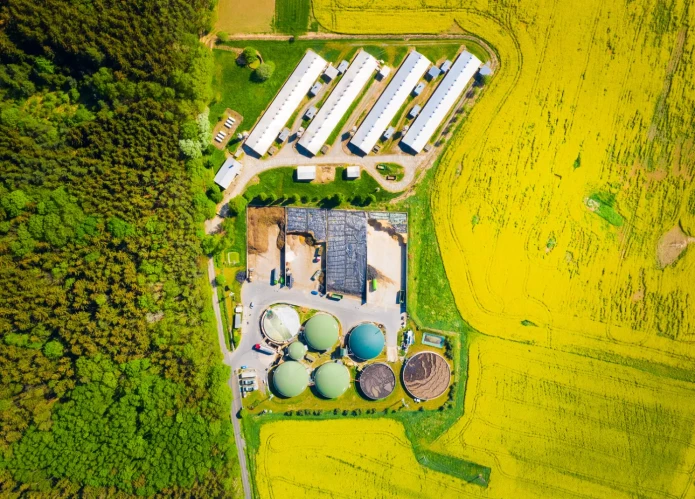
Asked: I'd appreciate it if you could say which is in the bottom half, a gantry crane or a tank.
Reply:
tank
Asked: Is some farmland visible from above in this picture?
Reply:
Yes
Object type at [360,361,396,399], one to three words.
storage tank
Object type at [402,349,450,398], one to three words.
storage tank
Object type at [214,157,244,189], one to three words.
barn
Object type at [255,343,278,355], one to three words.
vehicle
